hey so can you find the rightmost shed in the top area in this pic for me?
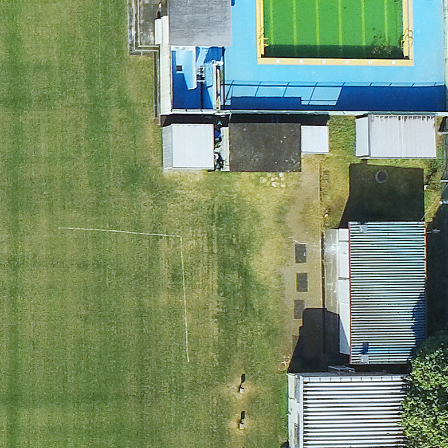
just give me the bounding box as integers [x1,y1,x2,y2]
[343,115,436,159]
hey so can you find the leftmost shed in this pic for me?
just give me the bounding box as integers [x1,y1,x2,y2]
[164,124,213,168]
